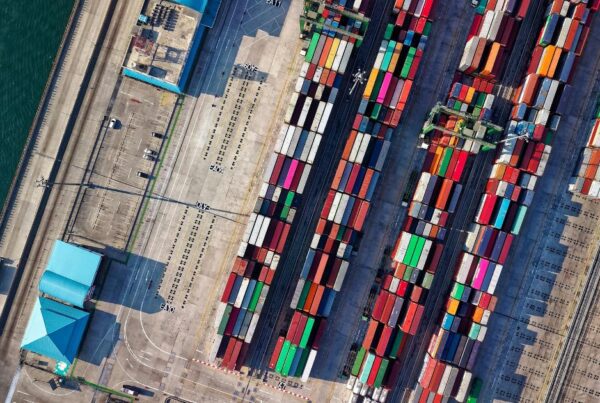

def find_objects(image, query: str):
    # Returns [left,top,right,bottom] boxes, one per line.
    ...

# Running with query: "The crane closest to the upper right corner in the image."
[412,103,504,159]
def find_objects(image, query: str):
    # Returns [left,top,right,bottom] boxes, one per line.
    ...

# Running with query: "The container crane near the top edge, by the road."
[299,0,373,60]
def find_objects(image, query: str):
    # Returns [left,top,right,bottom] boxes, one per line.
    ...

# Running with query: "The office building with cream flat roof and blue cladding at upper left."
[124,0,222,95]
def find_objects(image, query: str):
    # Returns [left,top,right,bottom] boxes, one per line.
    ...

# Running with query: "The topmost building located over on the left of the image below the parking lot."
[38,239,111,308]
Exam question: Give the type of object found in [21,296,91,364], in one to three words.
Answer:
building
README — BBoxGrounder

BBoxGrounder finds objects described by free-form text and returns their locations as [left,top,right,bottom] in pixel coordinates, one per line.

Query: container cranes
[299,0,373,60]
[412,103,504,159]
